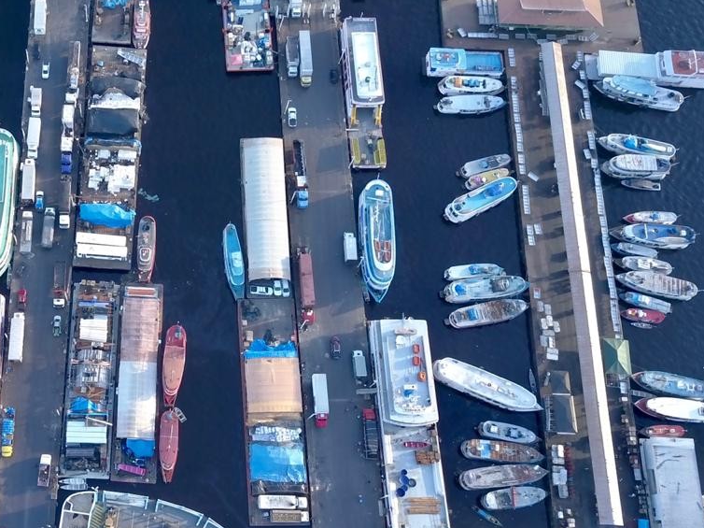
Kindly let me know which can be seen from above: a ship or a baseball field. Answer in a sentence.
It is a ship that can be seen here.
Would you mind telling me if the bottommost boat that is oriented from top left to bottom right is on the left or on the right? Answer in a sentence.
It is on the right.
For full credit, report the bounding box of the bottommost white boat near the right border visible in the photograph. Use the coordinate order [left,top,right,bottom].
[629,395,704,425]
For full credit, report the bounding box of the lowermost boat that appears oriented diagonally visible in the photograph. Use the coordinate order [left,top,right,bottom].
[473,505,504,527]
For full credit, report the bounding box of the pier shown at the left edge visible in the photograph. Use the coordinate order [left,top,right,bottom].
[0,0,93,528]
